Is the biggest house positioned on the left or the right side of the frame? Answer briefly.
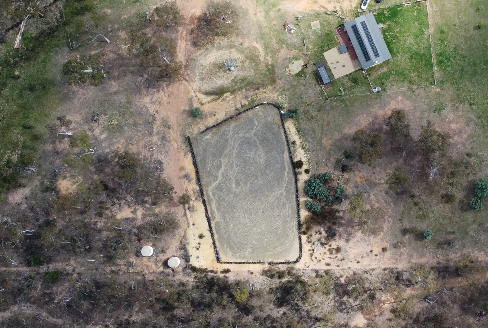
right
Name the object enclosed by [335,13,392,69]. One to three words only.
house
